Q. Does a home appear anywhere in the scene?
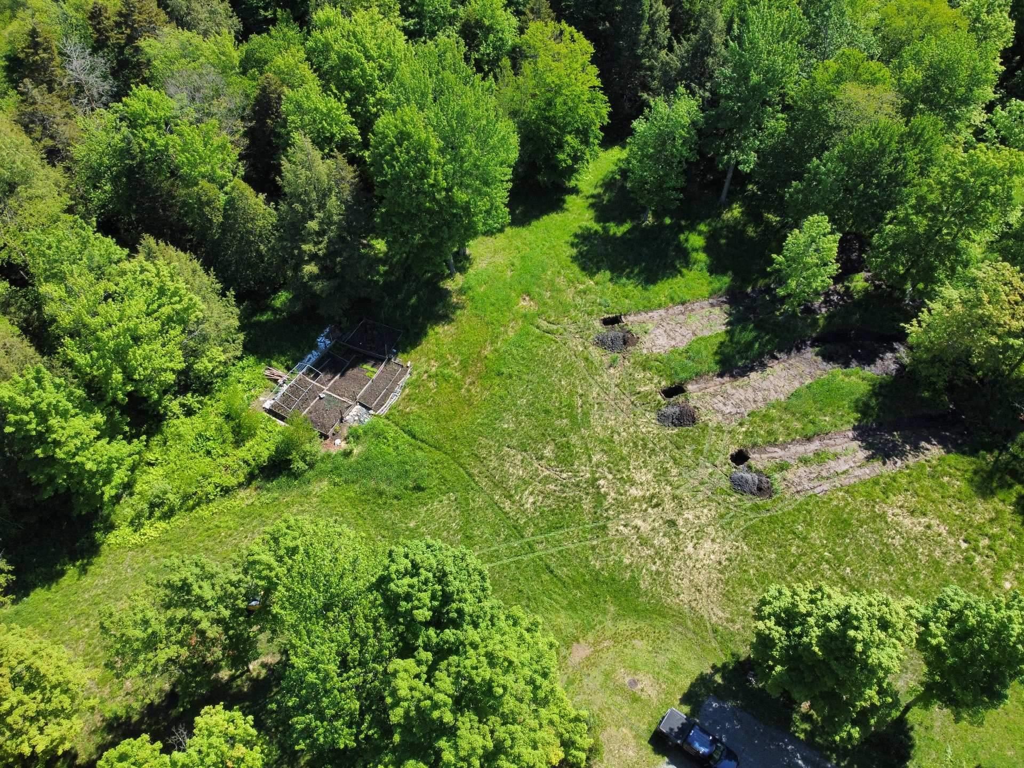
No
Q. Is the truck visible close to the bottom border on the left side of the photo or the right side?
right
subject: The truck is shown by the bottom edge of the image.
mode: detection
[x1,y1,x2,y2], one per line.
[657,707,739,768]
